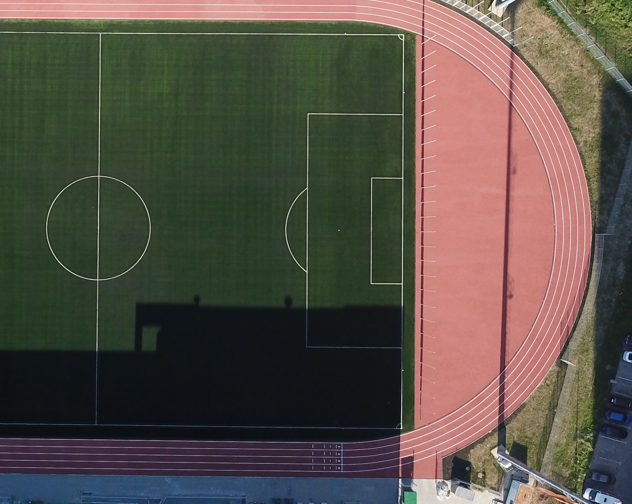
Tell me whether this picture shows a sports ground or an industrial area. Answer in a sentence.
What you see here is a sports ground.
